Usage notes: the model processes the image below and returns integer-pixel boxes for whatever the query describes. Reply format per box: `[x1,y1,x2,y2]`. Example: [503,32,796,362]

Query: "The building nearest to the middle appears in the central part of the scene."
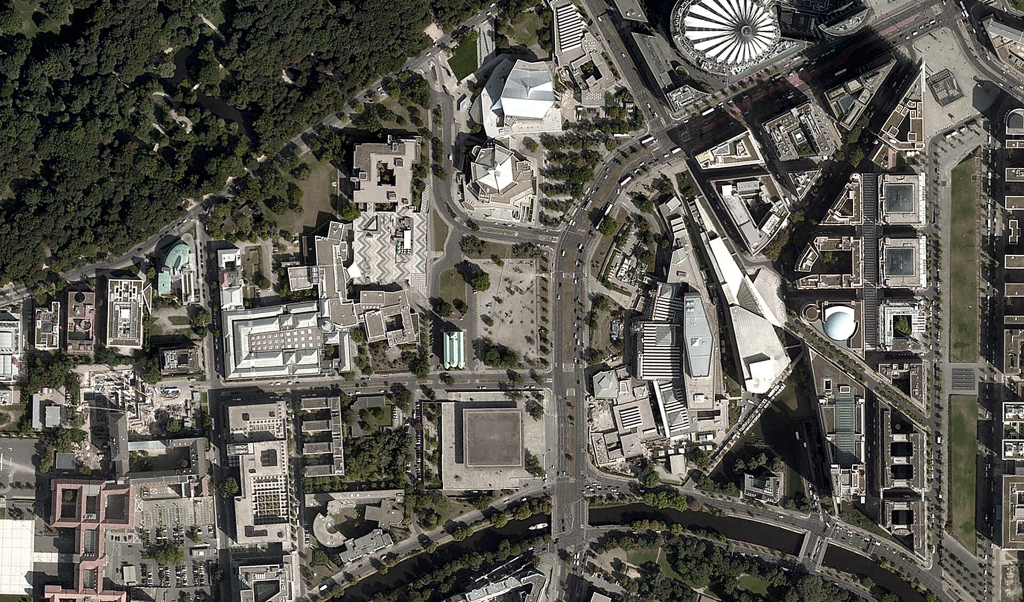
[444,331,465,369]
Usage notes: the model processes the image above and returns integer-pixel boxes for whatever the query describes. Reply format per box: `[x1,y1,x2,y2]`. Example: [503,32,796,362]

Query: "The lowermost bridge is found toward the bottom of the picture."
[798,533,831,573]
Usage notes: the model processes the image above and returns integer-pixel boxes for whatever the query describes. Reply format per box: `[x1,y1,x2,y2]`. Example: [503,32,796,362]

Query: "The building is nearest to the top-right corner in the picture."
[984,11,1024,74]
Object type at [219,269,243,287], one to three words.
house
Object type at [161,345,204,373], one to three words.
house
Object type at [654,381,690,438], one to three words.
building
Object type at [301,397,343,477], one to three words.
building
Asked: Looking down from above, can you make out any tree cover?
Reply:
Yes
